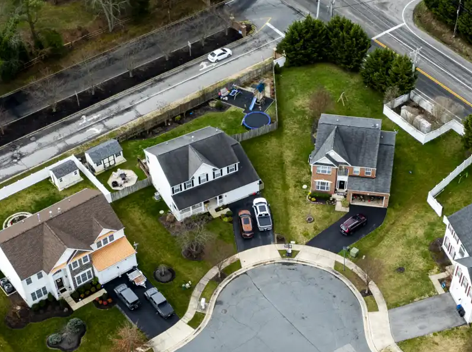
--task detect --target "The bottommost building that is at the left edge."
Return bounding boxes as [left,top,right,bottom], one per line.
[0,189,138,302]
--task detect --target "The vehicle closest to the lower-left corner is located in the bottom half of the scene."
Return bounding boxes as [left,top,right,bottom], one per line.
[113,283,140,310]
